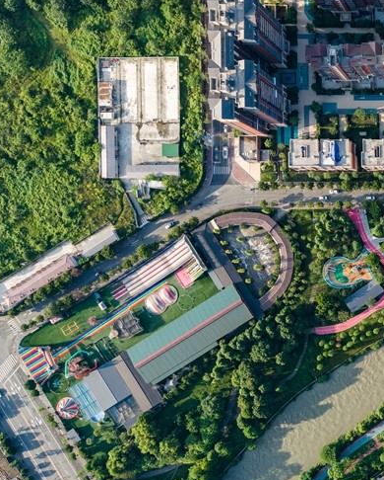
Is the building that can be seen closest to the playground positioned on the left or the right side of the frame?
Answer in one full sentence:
You can find the building that can be seen closest to the playground on the right side of the picture.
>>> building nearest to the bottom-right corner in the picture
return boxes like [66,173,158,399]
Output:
[345,279,384,311]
